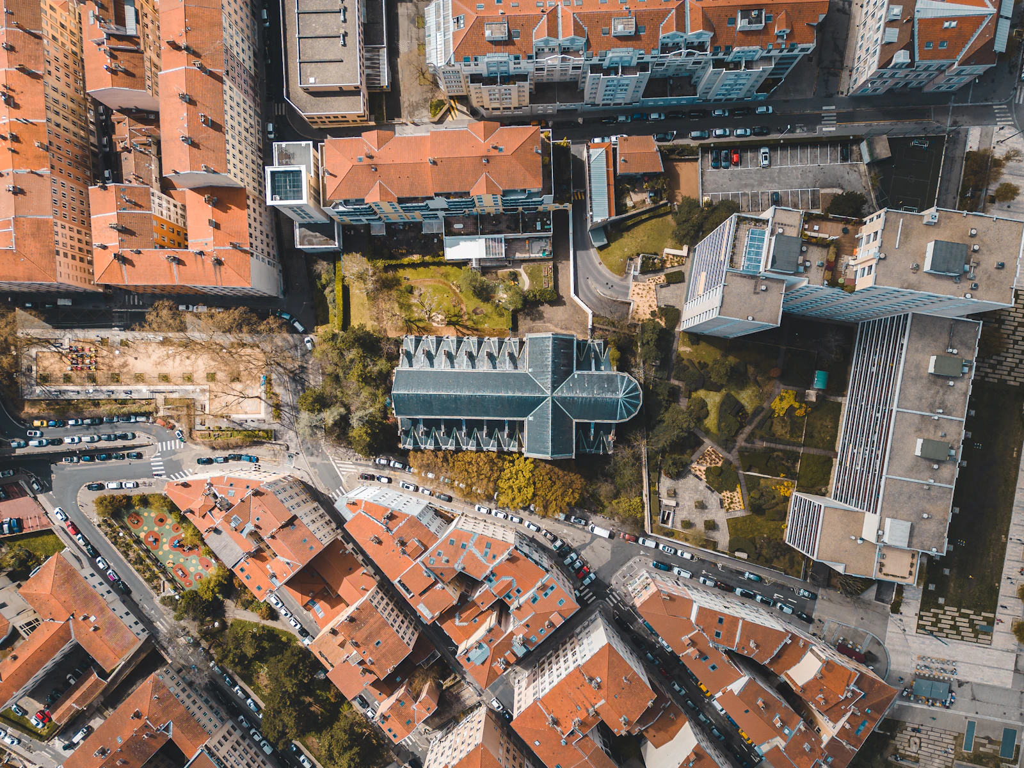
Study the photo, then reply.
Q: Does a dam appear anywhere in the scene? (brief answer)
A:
No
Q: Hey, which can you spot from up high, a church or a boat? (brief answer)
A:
church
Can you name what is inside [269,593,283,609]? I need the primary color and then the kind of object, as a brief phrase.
white car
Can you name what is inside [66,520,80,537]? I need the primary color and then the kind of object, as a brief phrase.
red car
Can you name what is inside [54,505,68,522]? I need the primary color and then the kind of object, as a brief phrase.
white car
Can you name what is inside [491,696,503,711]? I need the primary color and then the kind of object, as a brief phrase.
white vehicle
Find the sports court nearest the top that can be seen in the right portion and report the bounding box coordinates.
[867,136,946,214]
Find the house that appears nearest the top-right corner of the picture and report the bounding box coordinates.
[848,0,1016,95]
